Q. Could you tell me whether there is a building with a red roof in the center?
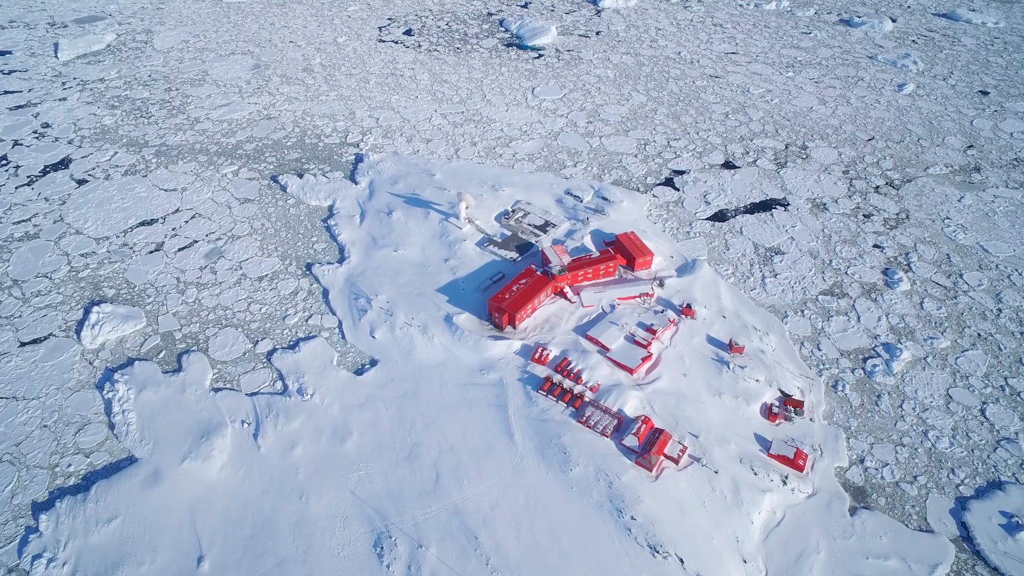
Yes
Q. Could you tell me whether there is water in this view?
Yes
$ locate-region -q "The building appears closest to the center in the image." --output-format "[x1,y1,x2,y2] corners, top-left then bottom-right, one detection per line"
[486,265,553,333]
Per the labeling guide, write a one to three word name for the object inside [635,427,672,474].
building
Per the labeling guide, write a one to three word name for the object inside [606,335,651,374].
building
